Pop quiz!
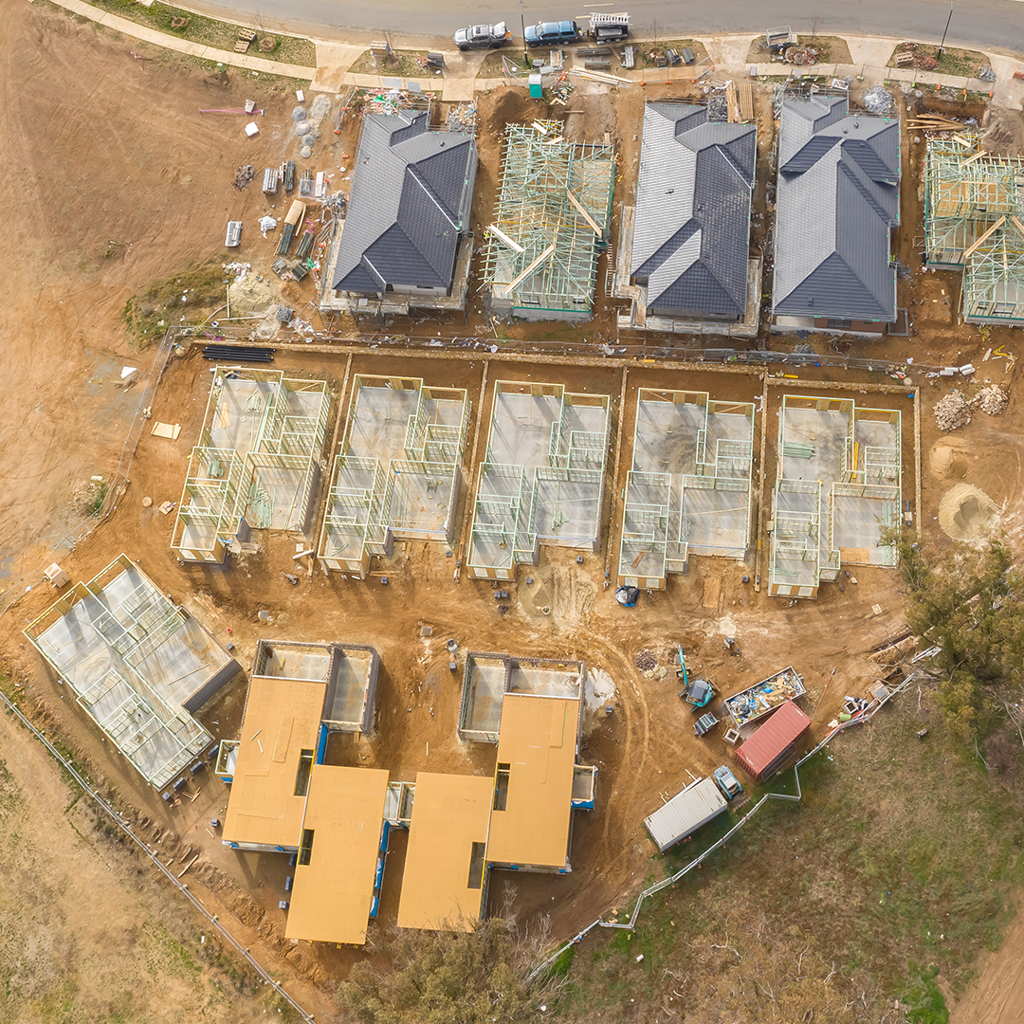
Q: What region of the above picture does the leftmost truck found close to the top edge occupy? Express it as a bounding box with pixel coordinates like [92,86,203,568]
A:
[452,21,512,51]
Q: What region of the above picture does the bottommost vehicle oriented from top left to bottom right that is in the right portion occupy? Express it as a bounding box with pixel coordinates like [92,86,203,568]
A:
[708,762,751,813]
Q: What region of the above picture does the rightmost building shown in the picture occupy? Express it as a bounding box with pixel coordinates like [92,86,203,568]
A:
[923,123,1024,332]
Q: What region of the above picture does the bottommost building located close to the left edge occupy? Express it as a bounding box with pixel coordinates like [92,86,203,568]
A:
[23,559,236,793]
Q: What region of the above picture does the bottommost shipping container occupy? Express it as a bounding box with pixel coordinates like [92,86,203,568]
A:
[642,776,729,856]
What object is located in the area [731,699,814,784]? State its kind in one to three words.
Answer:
shipping container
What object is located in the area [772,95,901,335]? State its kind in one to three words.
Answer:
house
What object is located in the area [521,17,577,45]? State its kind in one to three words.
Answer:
truck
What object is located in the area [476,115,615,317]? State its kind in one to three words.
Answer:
house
